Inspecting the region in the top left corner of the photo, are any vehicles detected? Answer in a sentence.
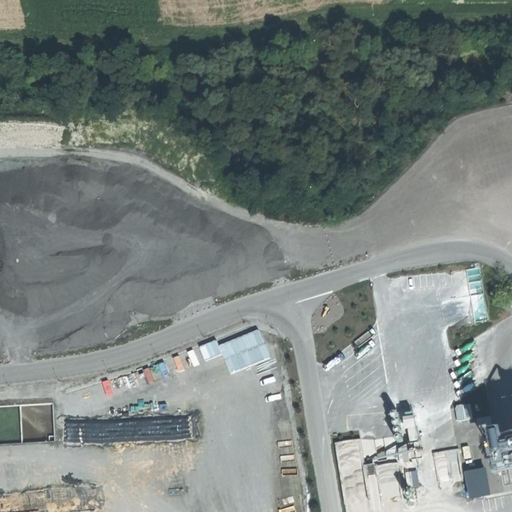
No, no vehicle is visible in the top left corner of the photo.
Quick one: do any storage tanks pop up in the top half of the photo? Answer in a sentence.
No, there is no storage tank in the top half of the photo.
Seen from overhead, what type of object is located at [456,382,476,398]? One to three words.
vehicle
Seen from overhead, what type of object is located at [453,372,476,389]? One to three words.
vehicle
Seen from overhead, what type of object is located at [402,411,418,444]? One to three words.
building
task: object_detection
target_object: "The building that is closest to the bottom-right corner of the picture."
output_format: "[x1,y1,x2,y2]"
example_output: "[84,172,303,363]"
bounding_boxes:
[464,468,490,500]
